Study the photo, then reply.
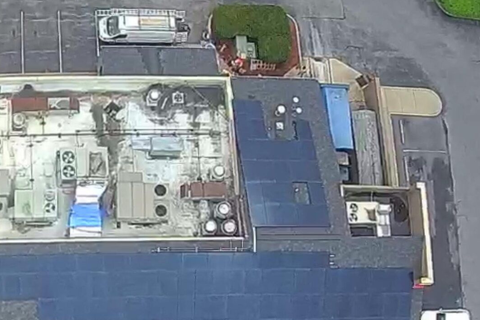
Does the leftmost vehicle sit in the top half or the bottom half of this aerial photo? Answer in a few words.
top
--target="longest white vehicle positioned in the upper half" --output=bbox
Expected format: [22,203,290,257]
[100,10,186,46]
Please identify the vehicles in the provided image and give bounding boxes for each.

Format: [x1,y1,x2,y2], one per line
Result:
[100,10,186,46]
[423,308,474,320]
